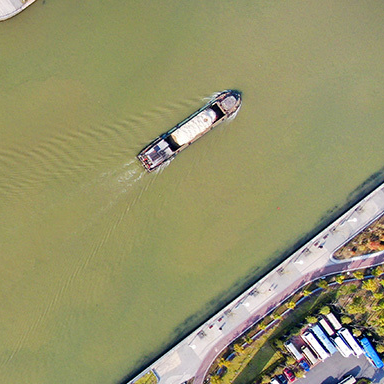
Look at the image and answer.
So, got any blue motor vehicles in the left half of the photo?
No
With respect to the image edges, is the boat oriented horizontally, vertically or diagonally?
diagonally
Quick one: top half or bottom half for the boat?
top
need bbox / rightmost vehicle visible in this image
[356,337,384,367]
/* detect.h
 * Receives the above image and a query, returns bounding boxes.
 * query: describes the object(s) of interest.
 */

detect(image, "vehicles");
[315,317,333,337]
[356,337,384,367]
[282,341,303,361]
[306,324,335,354]
[299,345,317,366]
[331,374,354,384]
[298,331,330,360]
[299,359,309,372]
[323,312,342,330]
[334,327,362,359]
[270,379,279,384]
[277,373,287,384]
[330,336,351,359]
[284,368,293,380]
